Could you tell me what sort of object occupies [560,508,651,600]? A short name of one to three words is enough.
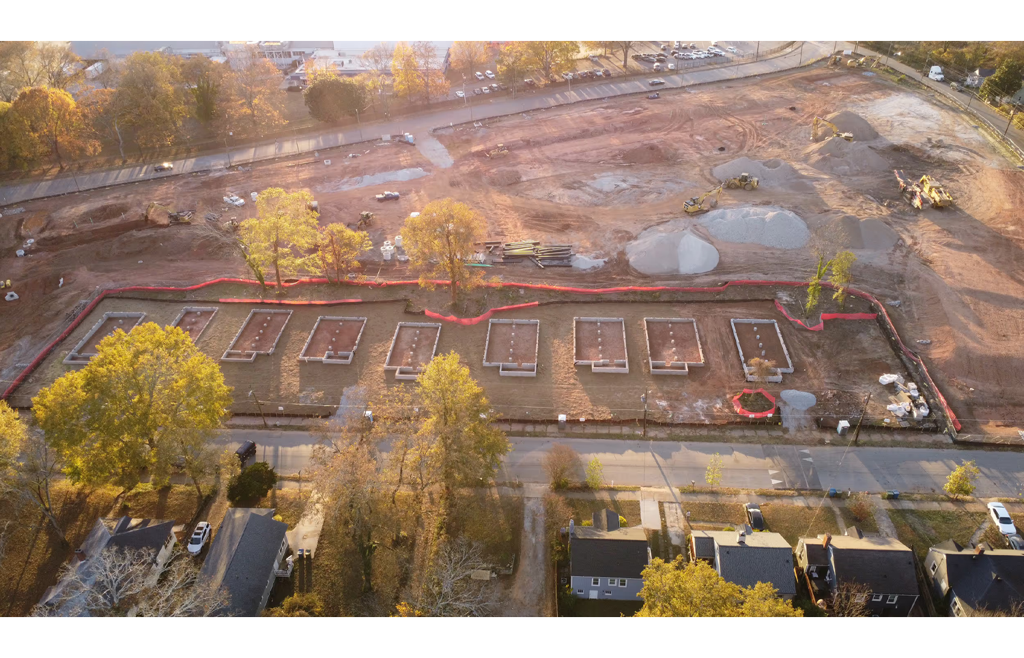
house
